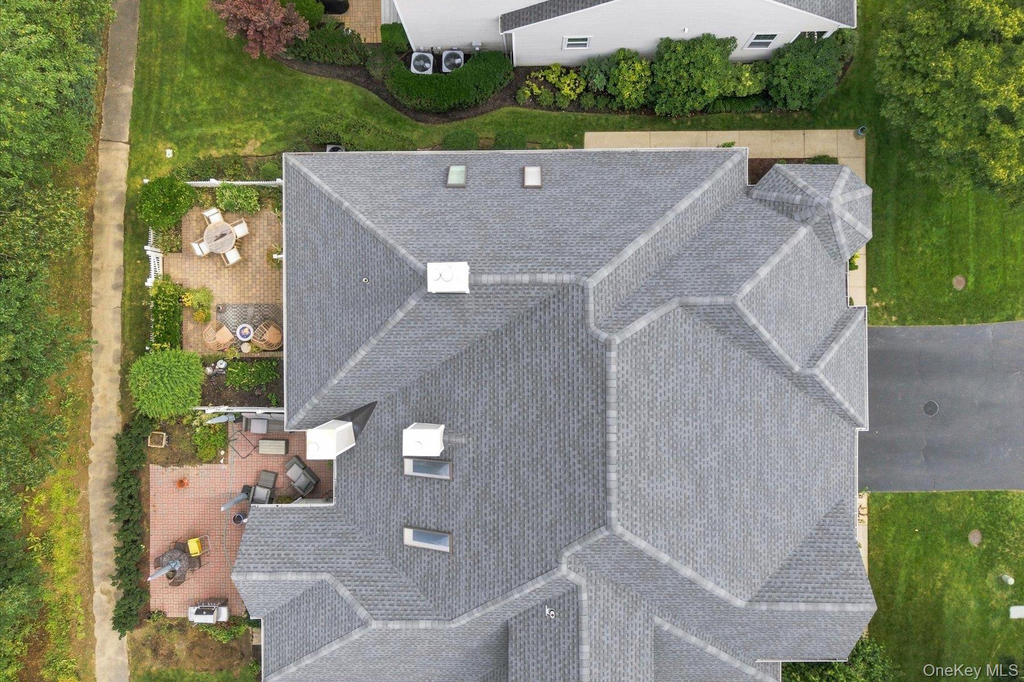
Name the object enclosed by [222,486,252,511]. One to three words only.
umbrella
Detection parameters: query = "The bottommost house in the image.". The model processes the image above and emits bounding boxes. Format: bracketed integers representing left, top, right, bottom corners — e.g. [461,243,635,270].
[231,145,879,682]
